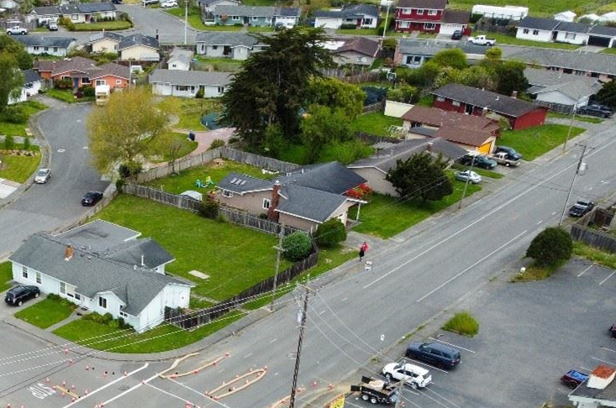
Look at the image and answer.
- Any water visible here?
No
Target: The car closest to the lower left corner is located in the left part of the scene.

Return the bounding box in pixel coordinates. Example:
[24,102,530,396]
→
[1,283,42,305]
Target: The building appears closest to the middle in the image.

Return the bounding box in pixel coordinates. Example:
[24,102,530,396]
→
[215,163,364,239]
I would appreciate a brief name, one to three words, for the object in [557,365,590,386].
truck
